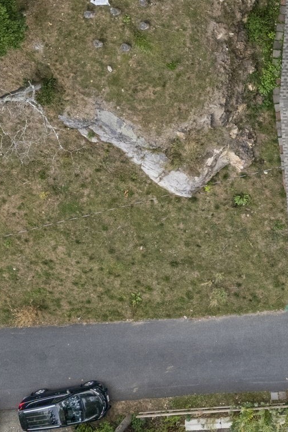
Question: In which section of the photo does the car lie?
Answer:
bottom left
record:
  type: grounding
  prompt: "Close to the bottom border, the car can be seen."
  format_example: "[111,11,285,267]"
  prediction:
[16,380,111,432]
